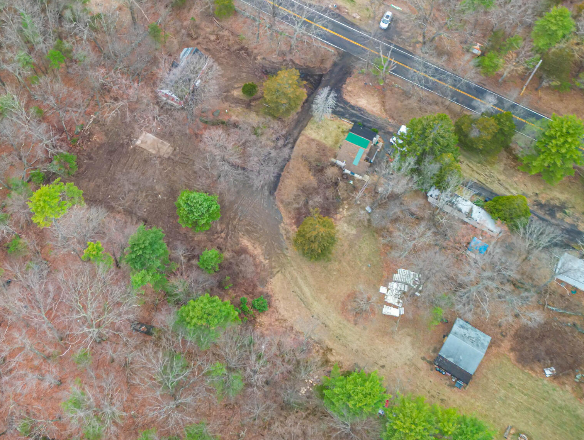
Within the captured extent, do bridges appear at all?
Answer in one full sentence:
No, I can see no bridge in this picture.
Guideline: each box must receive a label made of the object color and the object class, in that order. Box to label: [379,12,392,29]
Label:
white vehicle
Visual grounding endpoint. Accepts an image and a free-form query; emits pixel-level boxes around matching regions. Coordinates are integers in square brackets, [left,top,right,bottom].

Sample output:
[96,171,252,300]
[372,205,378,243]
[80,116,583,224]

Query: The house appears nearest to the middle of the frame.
[334,122,379,174]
